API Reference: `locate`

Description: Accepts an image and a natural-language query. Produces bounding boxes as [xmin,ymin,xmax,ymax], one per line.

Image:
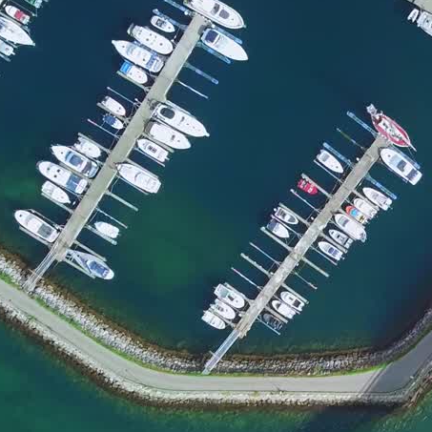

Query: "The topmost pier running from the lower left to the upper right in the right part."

[209,110,422,337]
